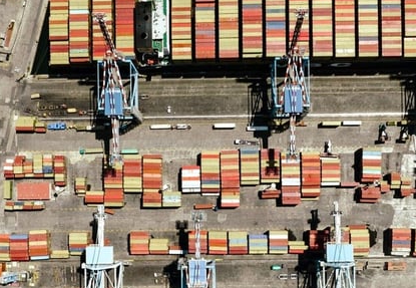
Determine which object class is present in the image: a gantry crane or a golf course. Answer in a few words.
gantry crane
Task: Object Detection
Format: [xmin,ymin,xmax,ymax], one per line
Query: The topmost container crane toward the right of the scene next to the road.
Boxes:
[268,9,314,161]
